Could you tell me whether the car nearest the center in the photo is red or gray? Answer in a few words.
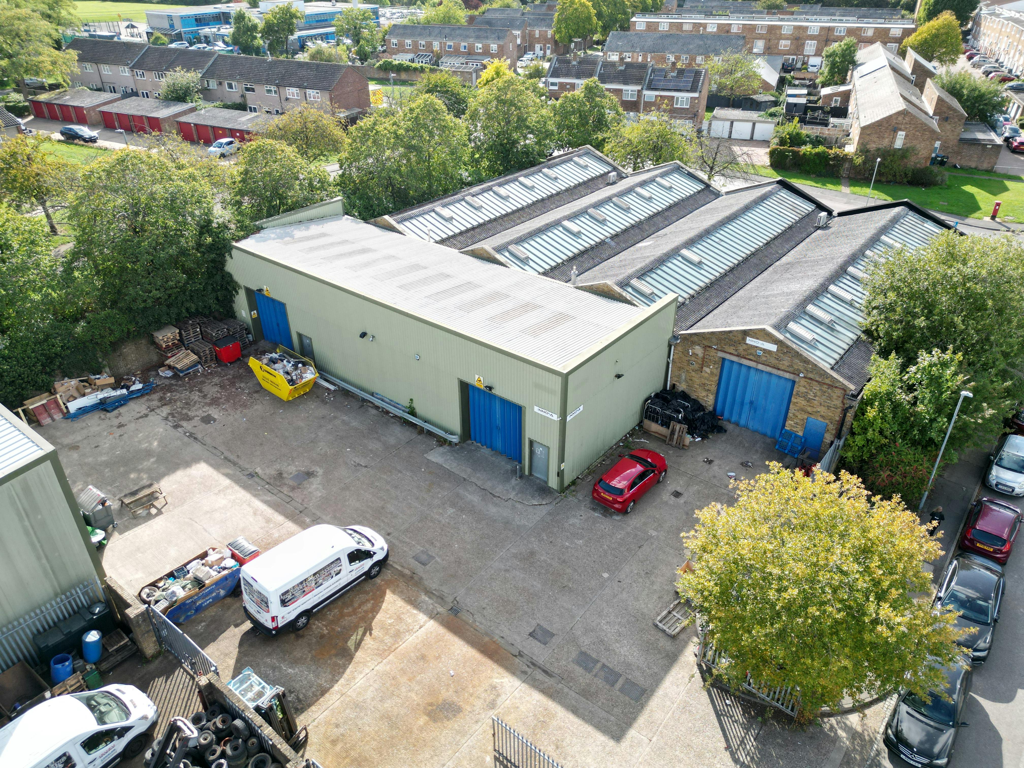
red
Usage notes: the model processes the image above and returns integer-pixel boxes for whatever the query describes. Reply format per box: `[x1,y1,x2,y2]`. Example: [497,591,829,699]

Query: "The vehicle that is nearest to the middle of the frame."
[590,451,666,516]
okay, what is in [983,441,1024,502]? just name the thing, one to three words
car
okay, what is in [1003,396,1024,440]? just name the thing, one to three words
car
